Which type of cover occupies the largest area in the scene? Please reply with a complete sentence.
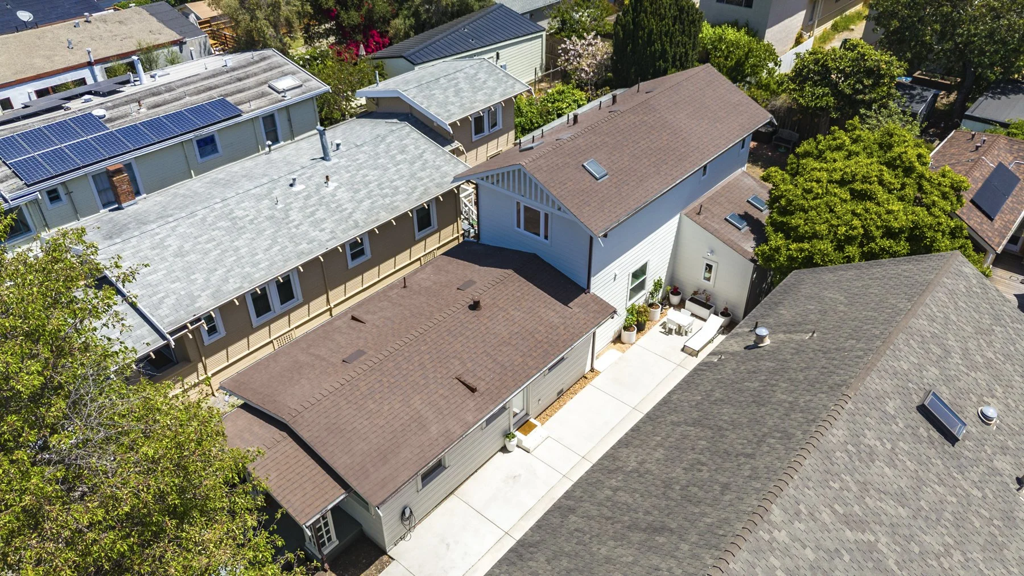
What you mostly see from above here is buildings.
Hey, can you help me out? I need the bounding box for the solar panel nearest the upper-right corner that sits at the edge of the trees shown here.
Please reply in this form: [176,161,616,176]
[967,162,1023,221]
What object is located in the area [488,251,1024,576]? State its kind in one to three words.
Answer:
house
